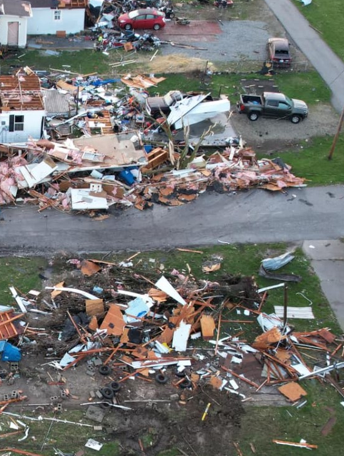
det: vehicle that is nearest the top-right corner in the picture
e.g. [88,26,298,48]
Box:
[267,36,294,64]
